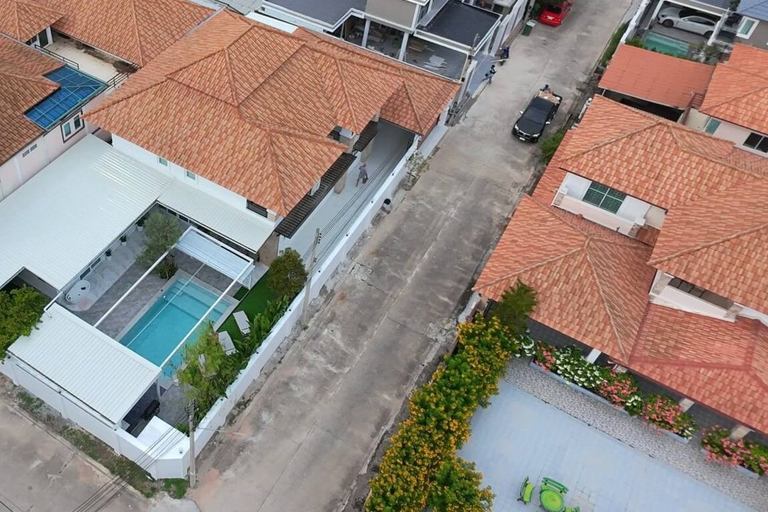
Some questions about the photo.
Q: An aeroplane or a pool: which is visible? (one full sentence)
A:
The one in the frame is a pool.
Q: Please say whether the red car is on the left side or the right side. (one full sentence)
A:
The red car sits on the right side.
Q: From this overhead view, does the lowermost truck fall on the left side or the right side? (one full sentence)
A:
The lowermost truck appears in the right half of the scene.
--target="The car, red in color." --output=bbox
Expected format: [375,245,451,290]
[540,0,574,21]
